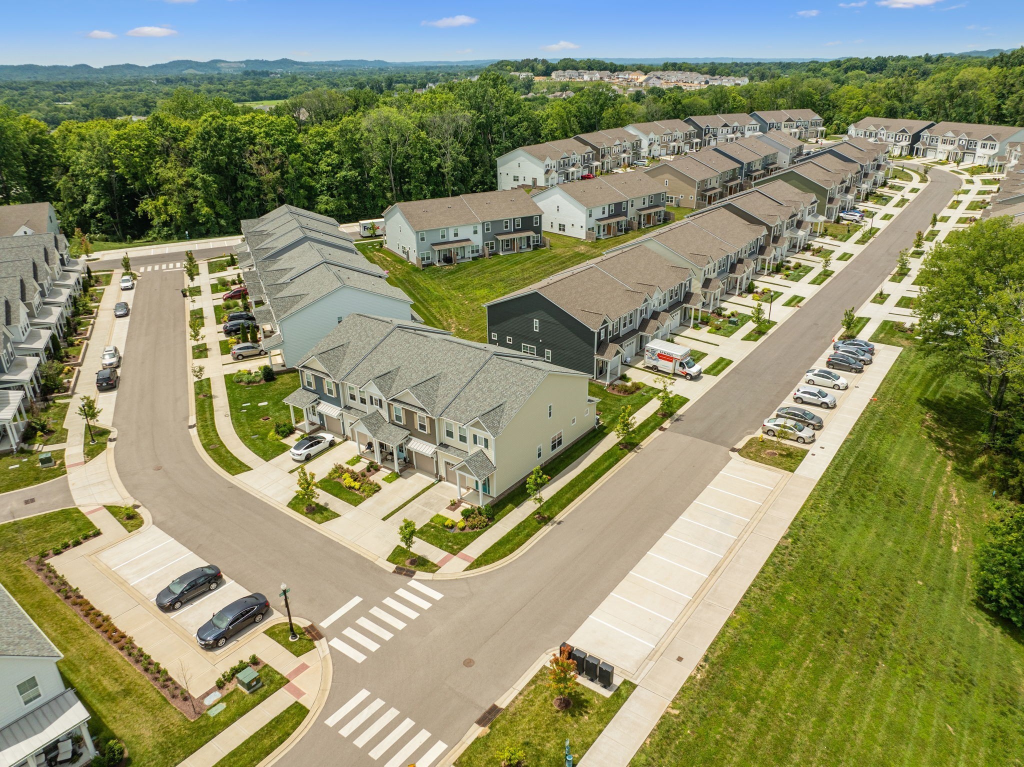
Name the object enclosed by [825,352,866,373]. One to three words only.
car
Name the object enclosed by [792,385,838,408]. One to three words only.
car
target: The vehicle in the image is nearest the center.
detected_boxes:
[640,336,704,378]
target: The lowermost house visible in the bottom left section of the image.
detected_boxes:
[0,595,101,767]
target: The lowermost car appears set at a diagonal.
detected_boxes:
[192,591,269,650]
